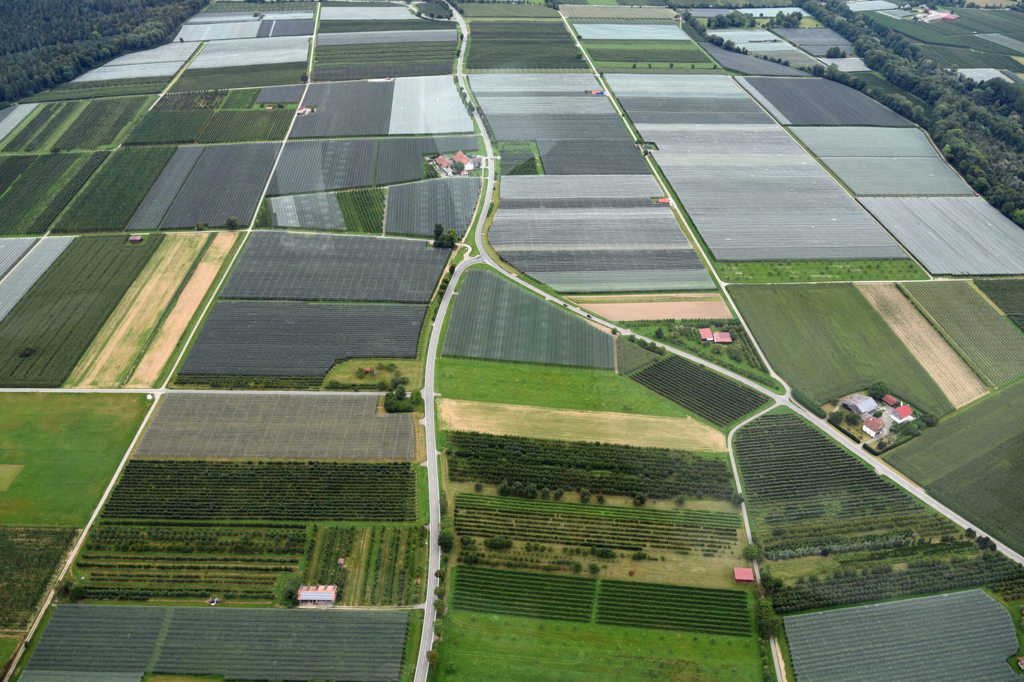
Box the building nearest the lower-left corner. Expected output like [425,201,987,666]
[298,582,338,604]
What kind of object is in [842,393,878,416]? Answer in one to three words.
barn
